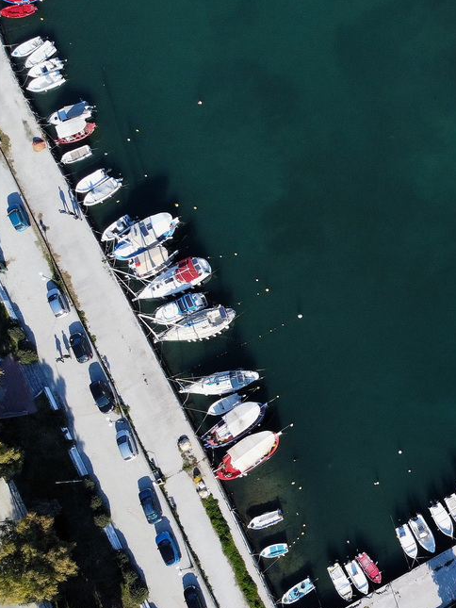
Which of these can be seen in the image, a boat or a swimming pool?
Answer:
boat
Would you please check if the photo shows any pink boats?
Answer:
Yes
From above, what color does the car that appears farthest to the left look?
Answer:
blue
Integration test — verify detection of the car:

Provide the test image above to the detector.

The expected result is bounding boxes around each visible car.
[67,332,92,363]
[115,430,139,462]
[42,284,68,318]
[156,534,179,566]
[4,200,29,231]
[182,587,206,608]
[88,380,114,413]
[137,491,161,525]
